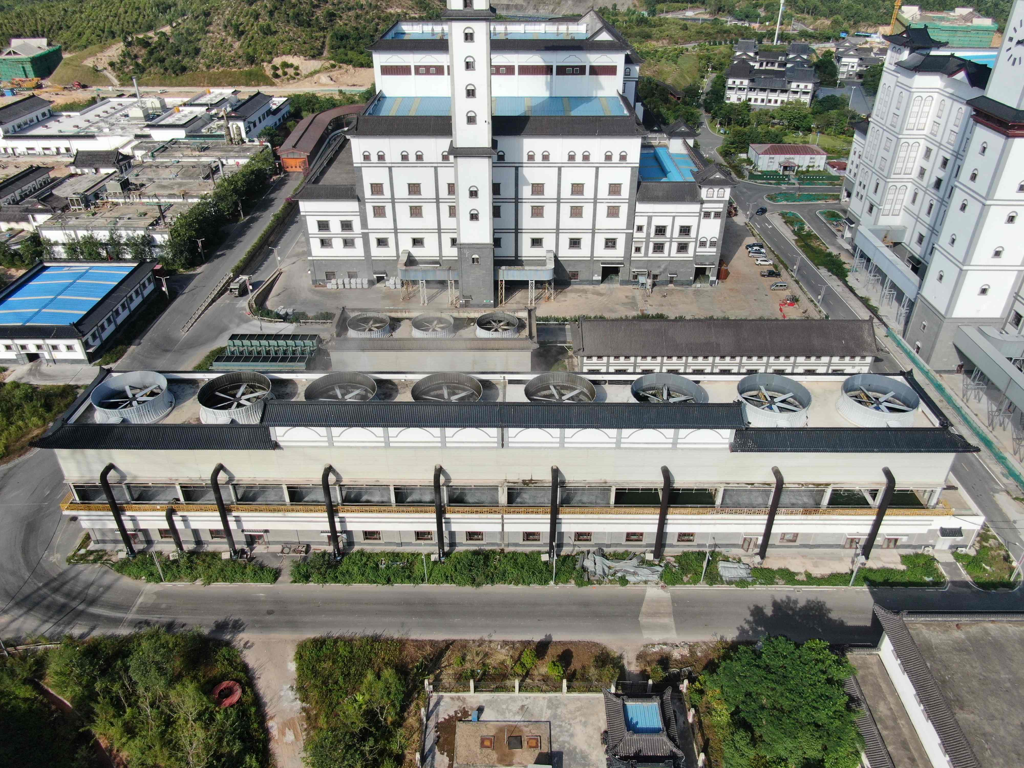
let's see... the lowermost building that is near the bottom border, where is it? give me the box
[599,680,692,768]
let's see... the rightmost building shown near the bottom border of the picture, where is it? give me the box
[823,591,1024,768]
